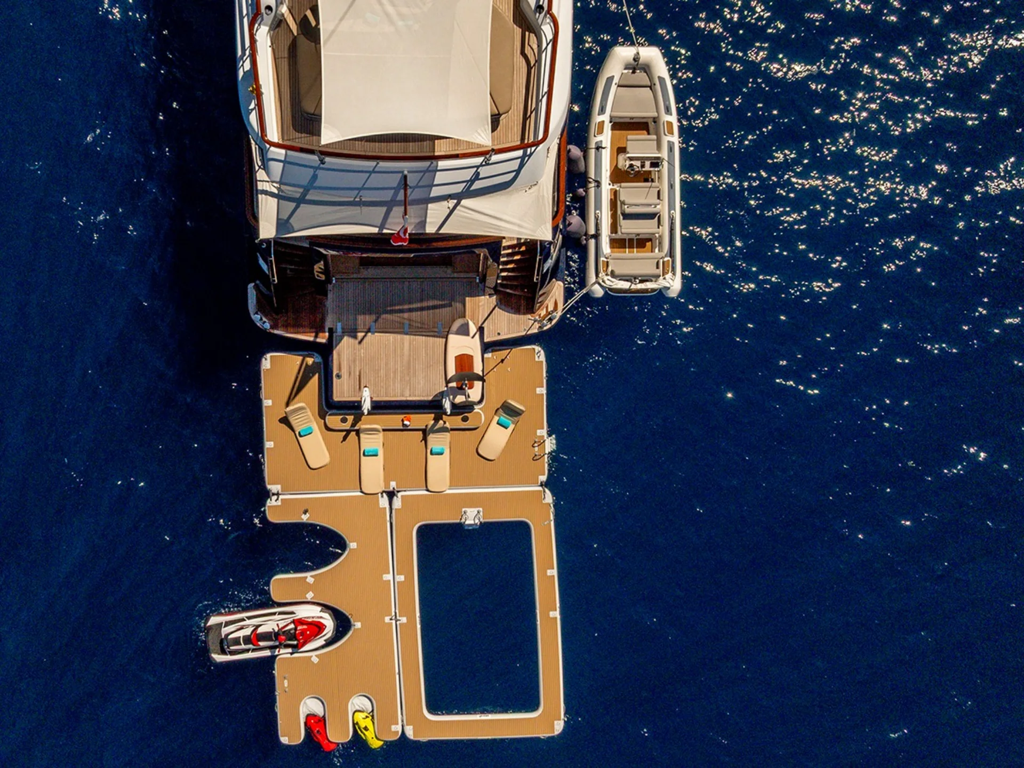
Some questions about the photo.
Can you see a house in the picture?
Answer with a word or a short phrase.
No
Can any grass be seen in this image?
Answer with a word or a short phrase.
No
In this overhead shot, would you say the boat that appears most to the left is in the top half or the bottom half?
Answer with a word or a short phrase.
bottom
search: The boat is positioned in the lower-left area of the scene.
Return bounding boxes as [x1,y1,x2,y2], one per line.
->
[205,602,338,663]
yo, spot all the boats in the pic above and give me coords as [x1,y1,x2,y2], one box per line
[586,45,681,300]
[205,602,338,663]
[238,0,573,407]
